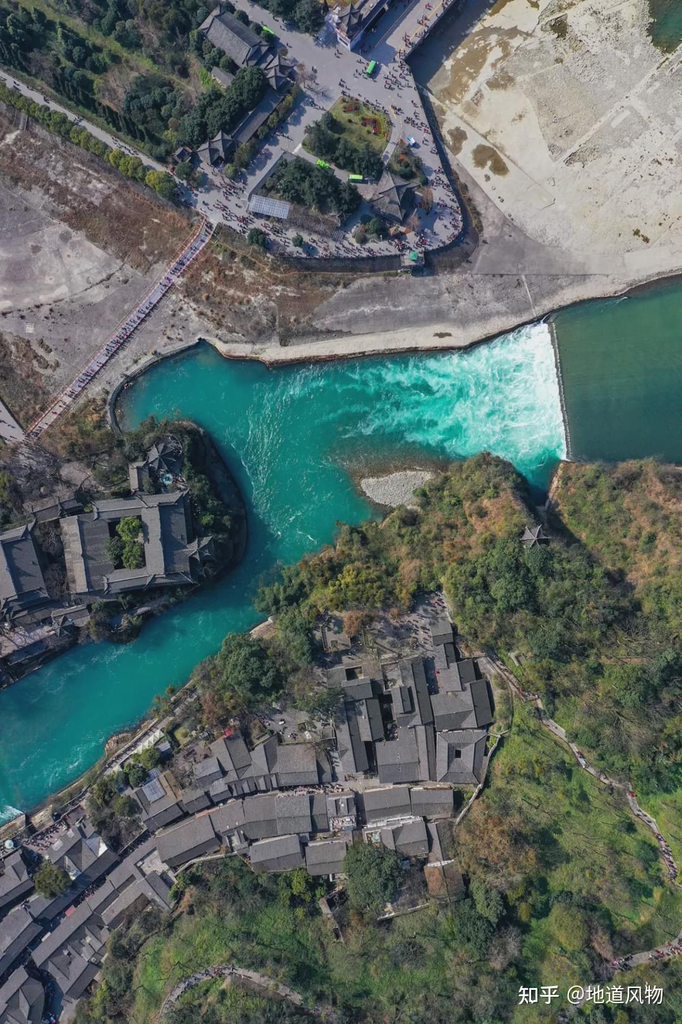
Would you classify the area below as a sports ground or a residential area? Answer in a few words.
residential area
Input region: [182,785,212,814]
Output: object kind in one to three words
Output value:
house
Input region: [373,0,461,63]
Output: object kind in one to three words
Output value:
bridge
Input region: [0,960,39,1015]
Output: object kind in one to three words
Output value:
house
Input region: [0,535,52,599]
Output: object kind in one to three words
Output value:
building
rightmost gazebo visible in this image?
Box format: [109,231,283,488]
[522,522,551,549]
